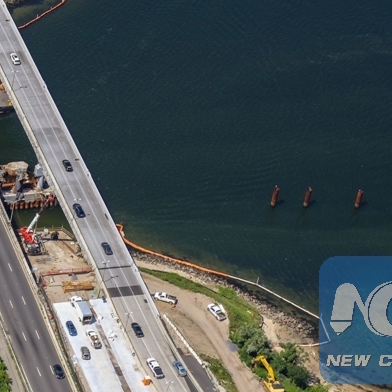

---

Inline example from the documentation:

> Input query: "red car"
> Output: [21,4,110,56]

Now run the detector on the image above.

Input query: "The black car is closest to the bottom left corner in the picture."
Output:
[53,364,65,379]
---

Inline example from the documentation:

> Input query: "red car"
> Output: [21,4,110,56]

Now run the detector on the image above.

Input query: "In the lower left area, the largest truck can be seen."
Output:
[72,297,94,323]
